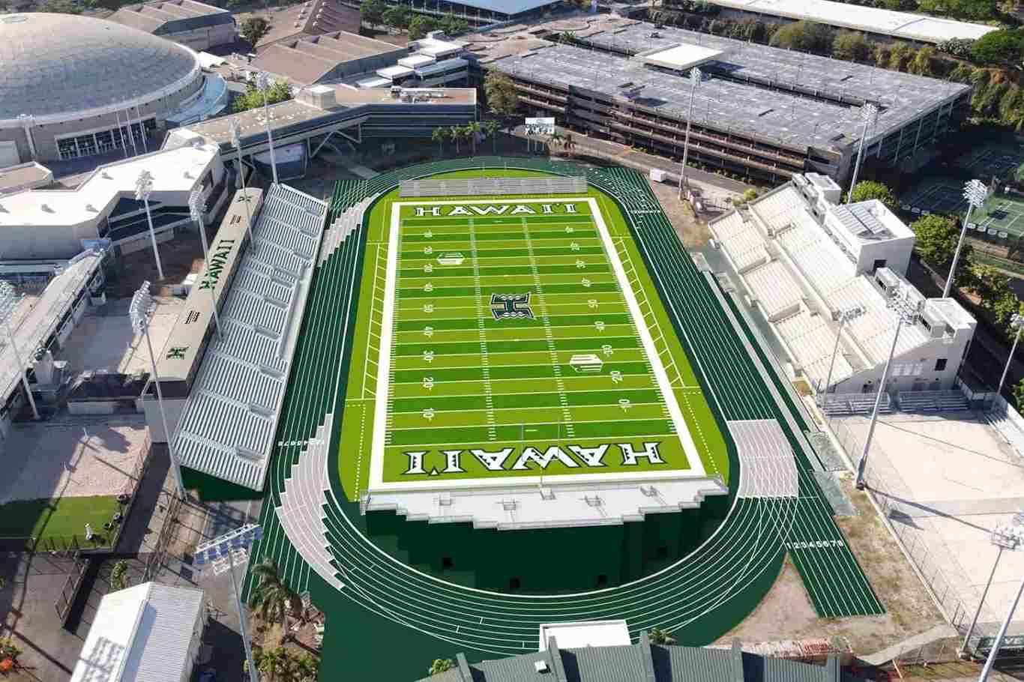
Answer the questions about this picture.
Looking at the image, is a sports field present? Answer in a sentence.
Yes, looking at the shot, I can spot a sports field.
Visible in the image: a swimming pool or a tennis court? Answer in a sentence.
The image shows a tennis court.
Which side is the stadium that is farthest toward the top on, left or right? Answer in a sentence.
The stadium that is farthest toward the top appears in the left half of the scene.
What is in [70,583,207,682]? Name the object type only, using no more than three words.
shed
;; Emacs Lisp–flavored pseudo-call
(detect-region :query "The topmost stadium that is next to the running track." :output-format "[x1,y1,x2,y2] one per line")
[0,12,257,167]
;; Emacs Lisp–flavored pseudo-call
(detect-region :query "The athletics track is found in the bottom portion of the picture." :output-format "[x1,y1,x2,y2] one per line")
[225,154,887,682]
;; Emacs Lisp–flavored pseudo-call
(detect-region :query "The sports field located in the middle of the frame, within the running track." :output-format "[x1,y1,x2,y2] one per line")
[338,168,726,501]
